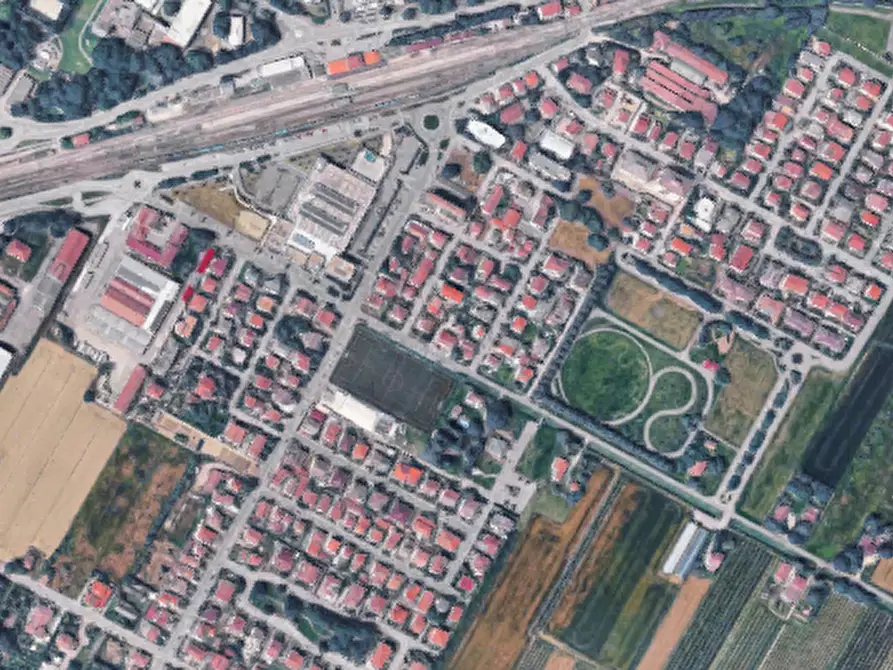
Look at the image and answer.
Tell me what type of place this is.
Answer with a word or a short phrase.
residential area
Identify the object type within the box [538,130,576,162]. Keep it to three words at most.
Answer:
building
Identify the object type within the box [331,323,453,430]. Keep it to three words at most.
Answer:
soccer field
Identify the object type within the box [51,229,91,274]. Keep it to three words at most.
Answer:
barn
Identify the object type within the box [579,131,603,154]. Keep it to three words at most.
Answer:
house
